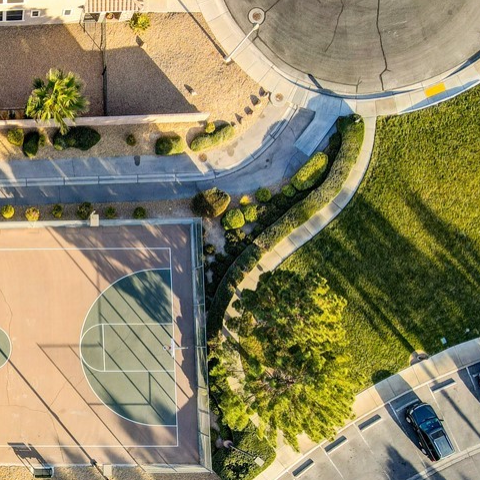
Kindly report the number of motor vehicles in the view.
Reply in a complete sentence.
I count 1 motor vehicle.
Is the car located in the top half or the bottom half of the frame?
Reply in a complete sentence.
You can find the car in the bottom half.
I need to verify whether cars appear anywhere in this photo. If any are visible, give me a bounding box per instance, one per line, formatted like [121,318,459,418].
[408,401,461,464]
